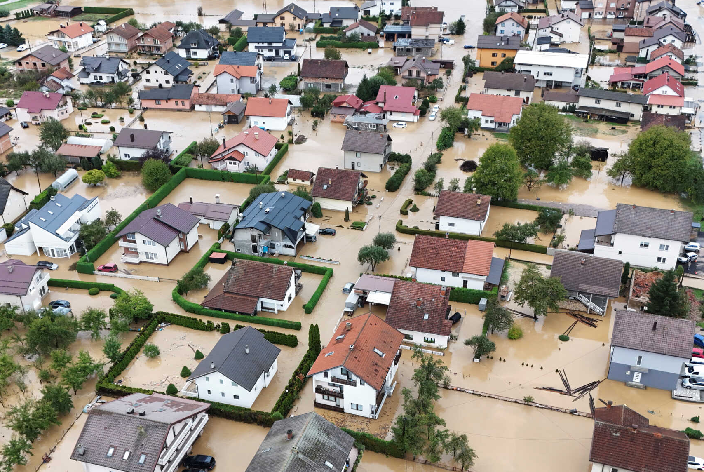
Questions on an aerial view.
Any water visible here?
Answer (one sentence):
Yes, there is water in the image.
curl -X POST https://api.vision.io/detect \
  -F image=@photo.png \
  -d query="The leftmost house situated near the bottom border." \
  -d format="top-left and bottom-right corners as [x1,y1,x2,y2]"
[69,390,212,472]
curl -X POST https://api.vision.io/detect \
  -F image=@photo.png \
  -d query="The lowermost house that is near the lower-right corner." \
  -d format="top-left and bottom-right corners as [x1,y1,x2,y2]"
[588,400,691,472]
